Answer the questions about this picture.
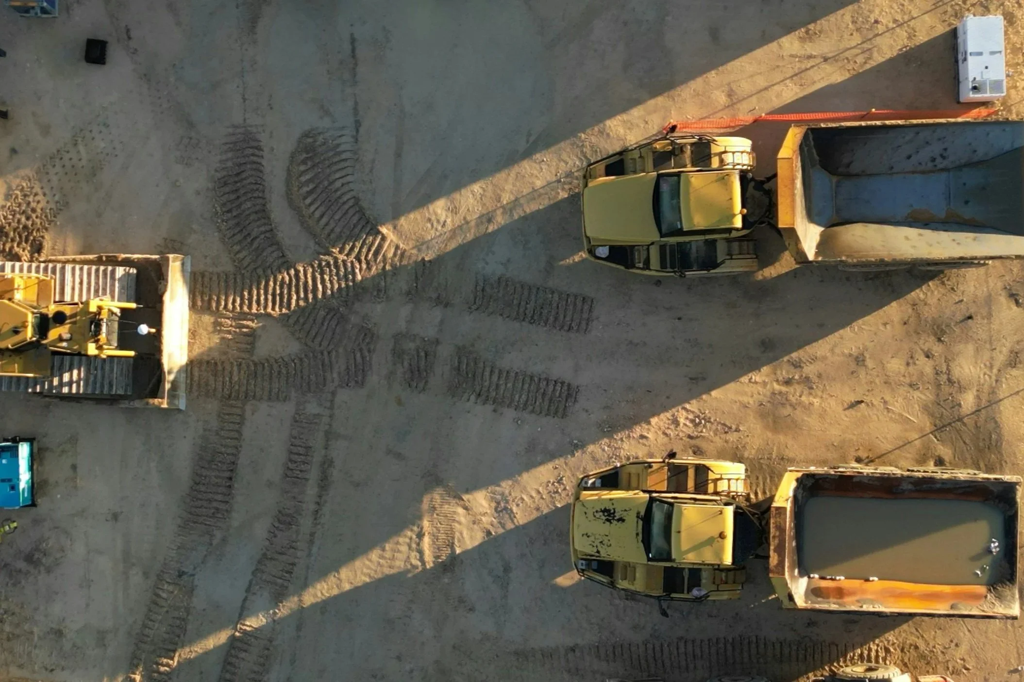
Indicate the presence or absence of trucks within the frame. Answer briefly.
Yes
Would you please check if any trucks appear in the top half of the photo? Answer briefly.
Yes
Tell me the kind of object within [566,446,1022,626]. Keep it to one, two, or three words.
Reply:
truck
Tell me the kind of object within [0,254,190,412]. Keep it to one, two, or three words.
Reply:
work vehicle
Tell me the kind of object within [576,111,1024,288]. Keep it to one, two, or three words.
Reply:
truck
